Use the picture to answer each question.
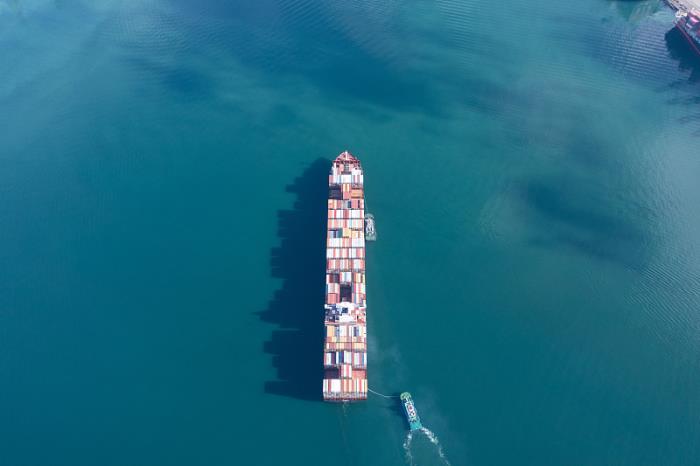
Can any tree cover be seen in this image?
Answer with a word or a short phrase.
No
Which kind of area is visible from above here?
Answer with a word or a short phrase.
port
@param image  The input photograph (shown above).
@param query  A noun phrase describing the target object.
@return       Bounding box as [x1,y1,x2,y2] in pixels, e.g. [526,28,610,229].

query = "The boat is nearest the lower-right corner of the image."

[401,391,422,430]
